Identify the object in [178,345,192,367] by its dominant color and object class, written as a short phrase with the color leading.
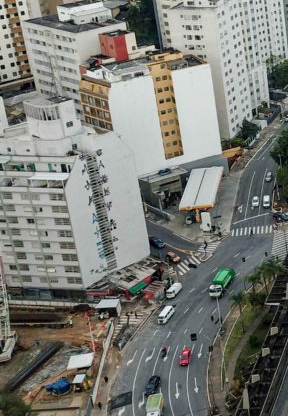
red car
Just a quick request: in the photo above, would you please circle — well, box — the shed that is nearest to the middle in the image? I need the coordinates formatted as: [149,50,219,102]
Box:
[139,167,191,218]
